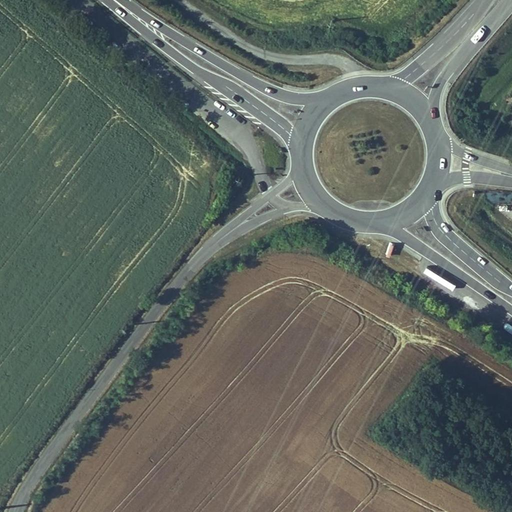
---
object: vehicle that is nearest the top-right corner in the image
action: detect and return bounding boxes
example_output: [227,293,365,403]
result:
[470,26,486,44]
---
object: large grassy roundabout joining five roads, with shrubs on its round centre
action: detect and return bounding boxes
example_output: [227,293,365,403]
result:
[288,74,453,234]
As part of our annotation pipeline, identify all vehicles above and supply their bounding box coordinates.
[114,6,127,18]
[232,94,244,104]
[193,46,206,56]
[440,157,446,170]
[470,26,486,44]
[440,221,450,233]
[260,180,268,193]
[435,190,441,202]
[226,108,238,118]
[235,114,248,126]
[208,120,219,130]
[152,38,164,48]
[431,107,437,119]
[264,87,276,94]
[351,86,363,91]
[150,19,162,29]
[476,256,488,266]
[213,100,226,110]
[464,153,476,160]
[484,289,496,299]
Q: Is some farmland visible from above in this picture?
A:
Yes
